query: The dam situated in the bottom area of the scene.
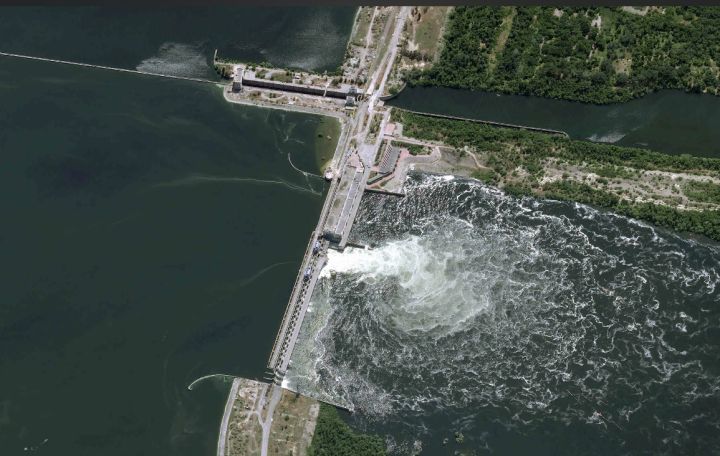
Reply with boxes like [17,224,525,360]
[263,230,330,385]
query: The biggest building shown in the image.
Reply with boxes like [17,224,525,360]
[314,169,367,249]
